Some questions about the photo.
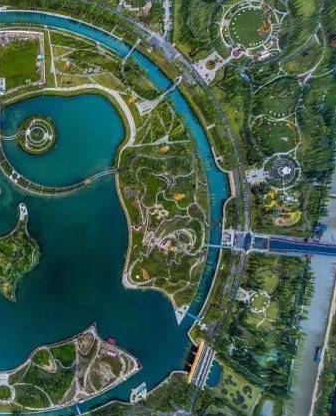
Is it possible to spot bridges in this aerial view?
Yes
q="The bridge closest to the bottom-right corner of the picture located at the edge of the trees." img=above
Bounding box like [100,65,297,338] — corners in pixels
[184,339,215,389]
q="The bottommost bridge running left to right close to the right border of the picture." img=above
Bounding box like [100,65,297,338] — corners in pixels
[252,235,336,259]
